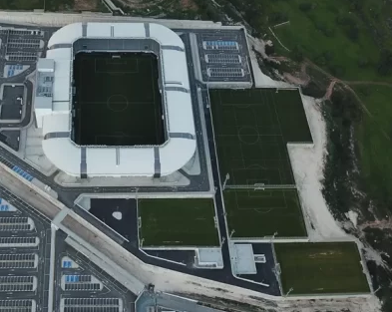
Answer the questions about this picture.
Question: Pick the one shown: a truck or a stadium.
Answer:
stadium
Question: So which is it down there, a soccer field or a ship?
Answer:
soccer field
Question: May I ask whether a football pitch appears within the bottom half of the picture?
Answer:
Yes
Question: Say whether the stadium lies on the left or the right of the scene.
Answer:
left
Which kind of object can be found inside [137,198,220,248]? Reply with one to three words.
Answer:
soccer field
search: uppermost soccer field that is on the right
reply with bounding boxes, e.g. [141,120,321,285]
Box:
[207,87,313,187]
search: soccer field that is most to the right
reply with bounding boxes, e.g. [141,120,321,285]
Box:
[274,242,371,295]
